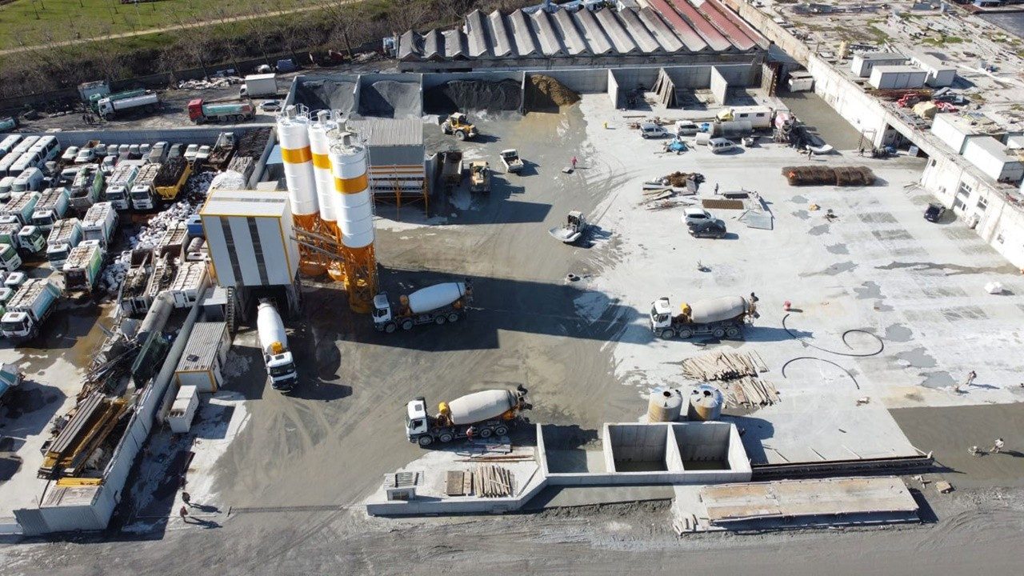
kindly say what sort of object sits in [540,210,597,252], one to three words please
work vehicle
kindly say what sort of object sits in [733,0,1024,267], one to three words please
building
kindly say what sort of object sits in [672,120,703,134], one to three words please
car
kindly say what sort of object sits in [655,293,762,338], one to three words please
truck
